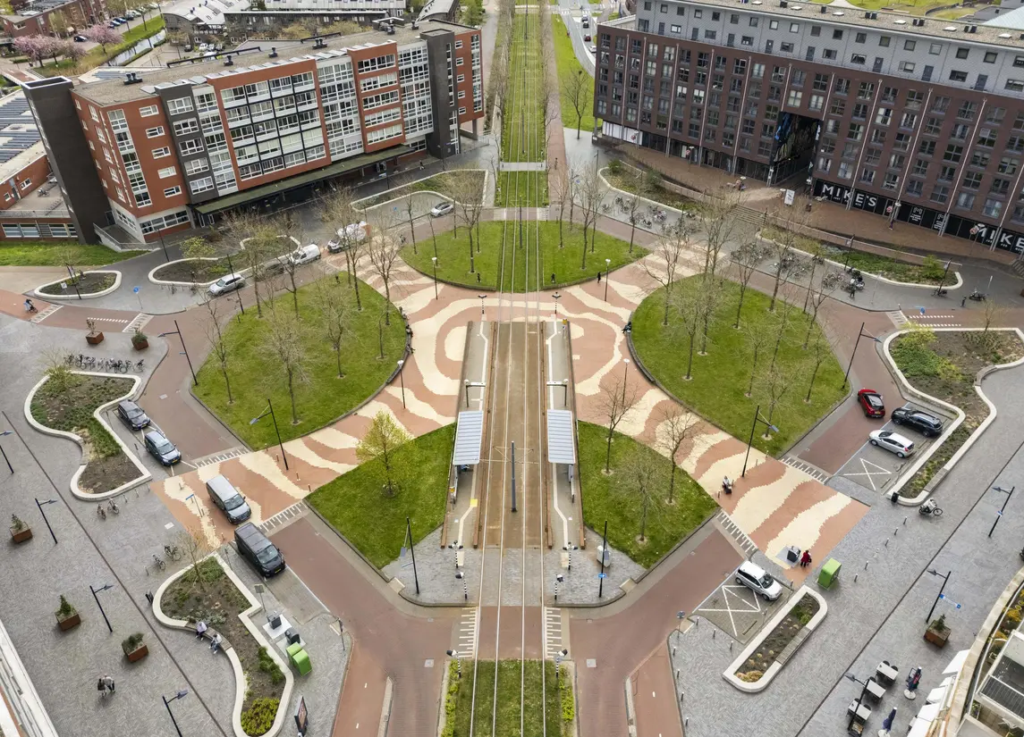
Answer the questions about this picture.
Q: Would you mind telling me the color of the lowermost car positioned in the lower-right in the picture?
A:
white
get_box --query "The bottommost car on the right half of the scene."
[734,555,788,603]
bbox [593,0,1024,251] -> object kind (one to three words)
building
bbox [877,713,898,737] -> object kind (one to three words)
umbrella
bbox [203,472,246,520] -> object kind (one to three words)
van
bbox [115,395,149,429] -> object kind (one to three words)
car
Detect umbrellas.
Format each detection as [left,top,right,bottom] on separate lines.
[906,671,927,703]
[877,713,898,737]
